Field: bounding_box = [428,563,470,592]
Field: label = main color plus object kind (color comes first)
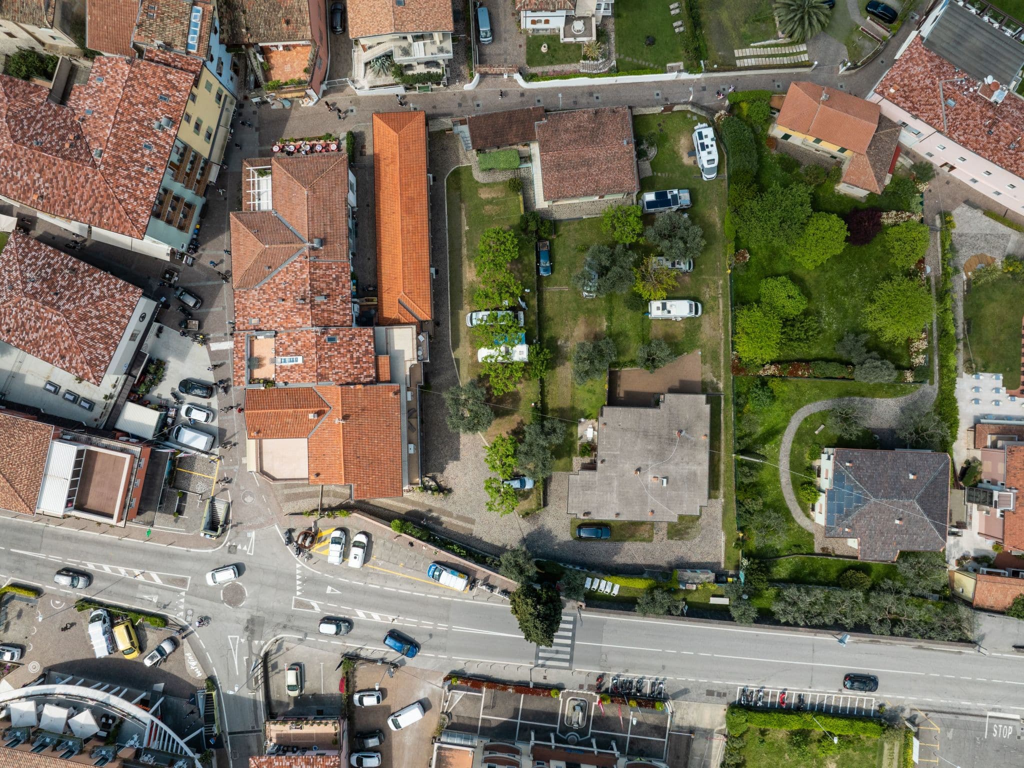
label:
white van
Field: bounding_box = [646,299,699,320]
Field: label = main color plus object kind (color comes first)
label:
white camper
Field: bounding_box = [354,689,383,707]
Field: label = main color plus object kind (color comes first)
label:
white car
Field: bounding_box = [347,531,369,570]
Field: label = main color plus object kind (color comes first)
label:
white vehicle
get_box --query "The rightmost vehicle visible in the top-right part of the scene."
[861,1,900,27]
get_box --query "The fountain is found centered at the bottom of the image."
[566,693,590,727]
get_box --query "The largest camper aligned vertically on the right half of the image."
[689,121,719,184]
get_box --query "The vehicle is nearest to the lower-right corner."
[840,672,876,692]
